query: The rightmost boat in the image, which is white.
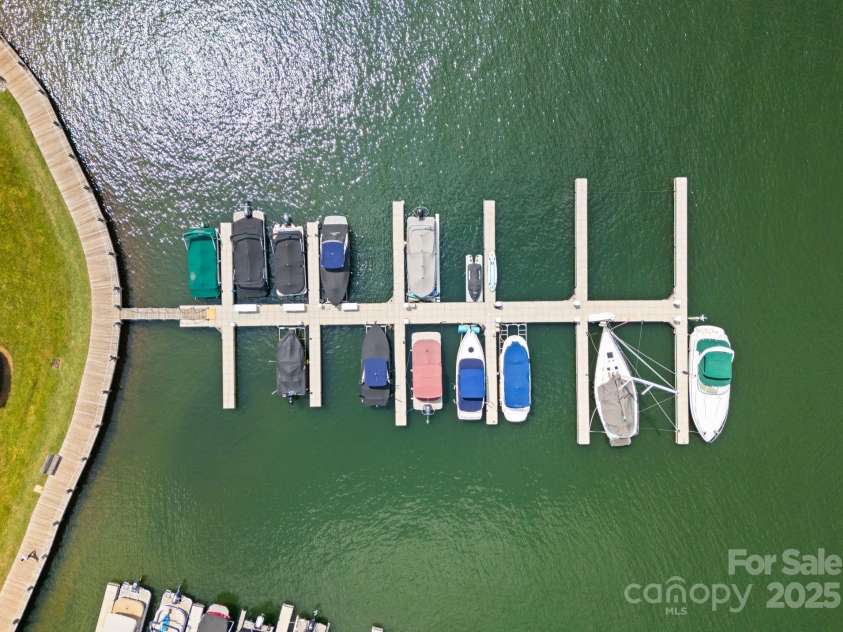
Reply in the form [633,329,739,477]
[688,323,734,444]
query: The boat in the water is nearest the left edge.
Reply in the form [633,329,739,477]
[109,578,157,632]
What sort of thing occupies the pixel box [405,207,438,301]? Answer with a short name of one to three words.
boat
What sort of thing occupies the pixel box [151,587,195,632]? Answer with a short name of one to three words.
boat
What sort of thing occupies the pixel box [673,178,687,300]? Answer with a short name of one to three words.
pier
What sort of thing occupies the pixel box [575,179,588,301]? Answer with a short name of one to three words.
pier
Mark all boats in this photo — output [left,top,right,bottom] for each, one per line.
[242,611,275,632]
[292,612,330,632]
[109,578,157,632]
[590,324,676,450]
[272,218,308,297]
[453,328,487,421]
[181,221,222,300]
[498,335,532,423]
[405,207,438,301]
[226,201,268,299]
[320,216,352,308]
[488,250,497,292]
[359,323,394,407]
[196,597,232,632]
[409,332,443,422]
[277,328,307,408]
[688,323,734,444]
[151,587,195,632]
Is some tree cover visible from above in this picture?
No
